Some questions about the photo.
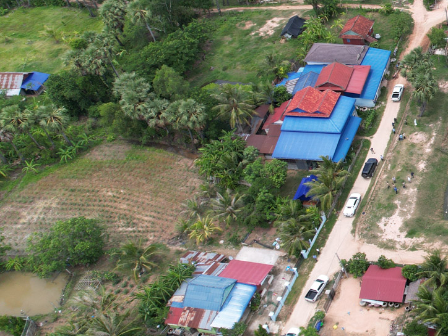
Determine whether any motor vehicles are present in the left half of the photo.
No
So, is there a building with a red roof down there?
Yes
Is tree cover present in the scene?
Yes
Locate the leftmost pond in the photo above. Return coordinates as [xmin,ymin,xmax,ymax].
[0,272,67,317]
